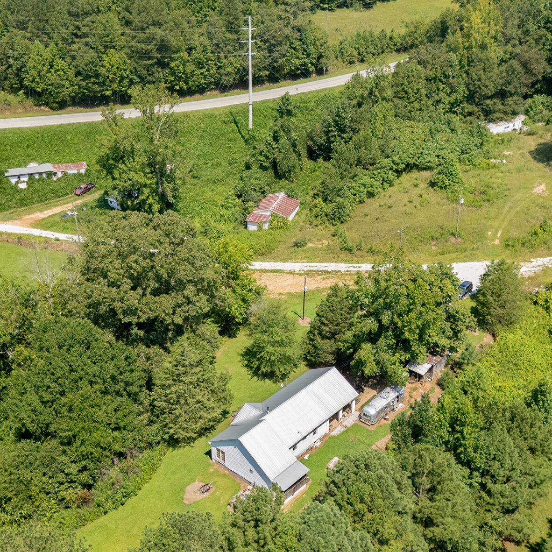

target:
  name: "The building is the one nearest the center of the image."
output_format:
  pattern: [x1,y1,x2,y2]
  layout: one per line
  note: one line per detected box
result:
[245,193,300,231]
